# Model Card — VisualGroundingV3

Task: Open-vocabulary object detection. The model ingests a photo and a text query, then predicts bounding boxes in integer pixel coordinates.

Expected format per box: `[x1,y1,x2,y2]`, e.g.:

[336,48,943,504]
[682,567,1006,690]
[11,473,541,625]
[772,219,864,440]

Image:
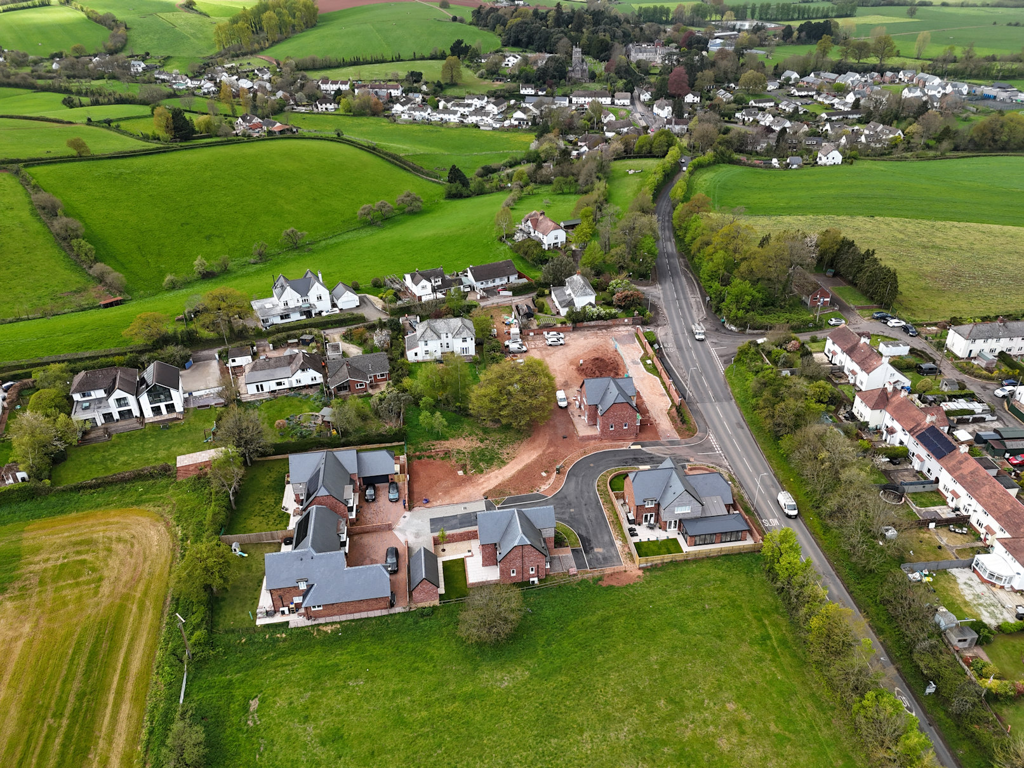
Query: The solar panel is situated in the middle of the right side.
[916,430,951,460]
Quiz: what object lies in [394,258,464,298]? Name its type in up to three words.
house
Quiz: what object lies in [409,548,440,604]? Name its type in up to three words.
building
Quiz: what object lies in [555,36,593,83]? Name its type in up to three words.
building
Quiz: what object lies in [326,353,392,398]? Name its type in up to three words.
house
